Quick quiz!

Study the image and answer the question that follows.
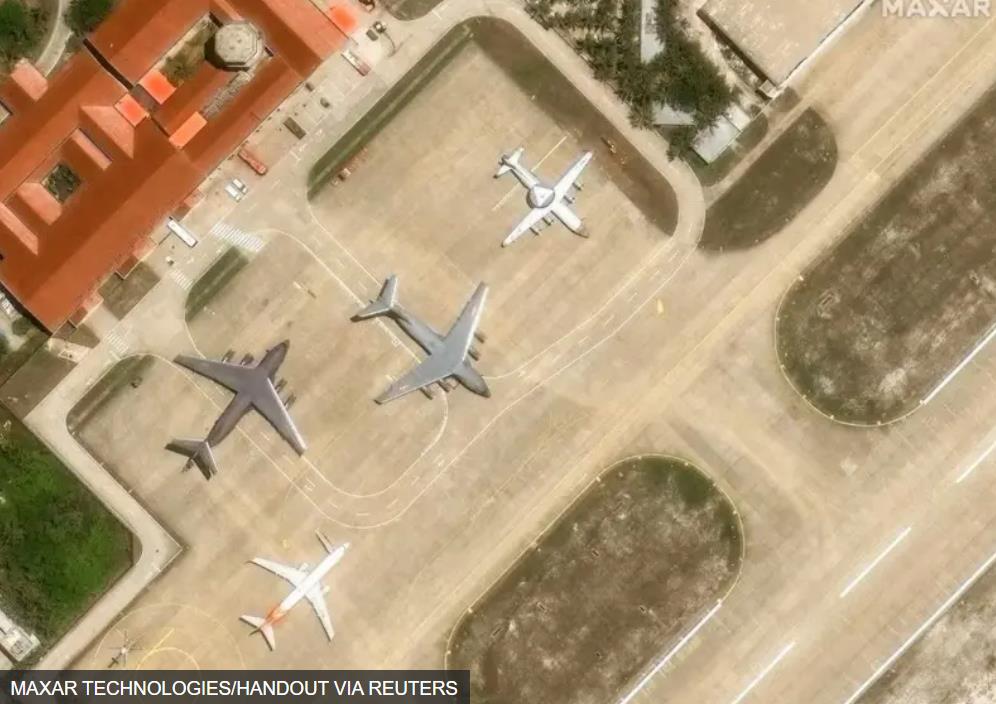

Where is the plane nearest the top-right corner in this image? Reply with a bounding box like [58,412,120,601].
[493,146,589,246]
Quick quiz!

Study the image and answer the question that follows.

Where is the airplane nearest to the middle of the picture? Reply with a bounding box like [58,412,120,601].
[351,269,489,400]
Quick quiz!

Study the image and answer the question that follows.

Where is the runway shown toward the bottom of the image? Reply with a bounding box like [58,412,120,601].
[623,331,996,704]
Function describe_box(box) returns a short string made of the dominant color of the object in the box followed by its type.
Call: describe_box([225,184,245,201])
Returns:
white vehicle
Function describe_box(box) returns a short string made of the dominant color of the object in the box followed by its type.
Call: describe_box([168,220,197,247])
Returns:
white bus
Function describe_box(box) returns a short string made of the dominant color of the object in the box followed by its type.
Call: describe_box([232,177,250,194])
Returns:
white vehicle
